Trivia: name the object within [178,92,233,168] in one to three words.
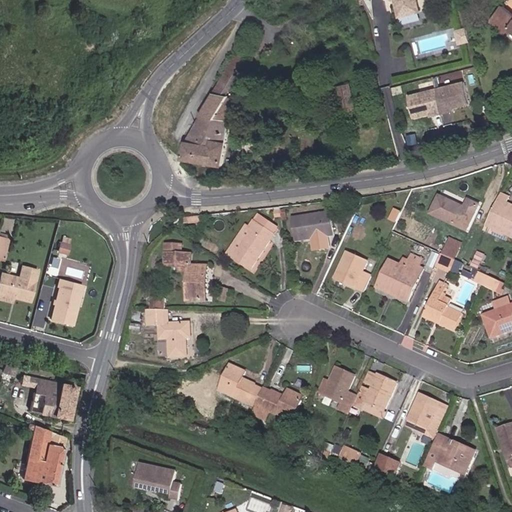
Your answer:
house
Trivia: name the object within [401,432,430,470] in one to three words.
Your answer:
swimming pool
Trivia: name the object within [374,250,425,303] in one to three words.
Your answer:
house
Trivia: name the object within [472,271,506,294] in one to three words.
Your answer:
shed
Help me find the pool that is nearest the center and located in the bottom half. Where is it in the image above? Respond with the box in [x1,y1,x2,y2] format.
[296,362,314,375]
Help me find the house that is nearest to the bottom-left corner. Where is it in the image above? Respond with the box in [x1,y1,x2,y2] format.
[25,426,68,485]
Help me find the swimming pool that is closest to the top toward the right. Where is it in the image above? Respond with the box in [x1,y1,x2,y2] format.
[412,30,458,58]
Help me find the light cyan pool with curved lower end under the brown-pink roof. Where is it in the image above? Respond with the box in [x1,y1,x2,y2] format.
[425,469,462,494]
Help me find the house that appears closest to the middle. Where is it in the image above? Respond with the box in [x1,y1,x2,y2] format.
[229,214,280,272]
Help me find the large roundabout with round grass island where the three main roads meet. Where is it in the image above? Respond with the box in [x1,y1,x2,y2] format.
[72,126,172,229]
